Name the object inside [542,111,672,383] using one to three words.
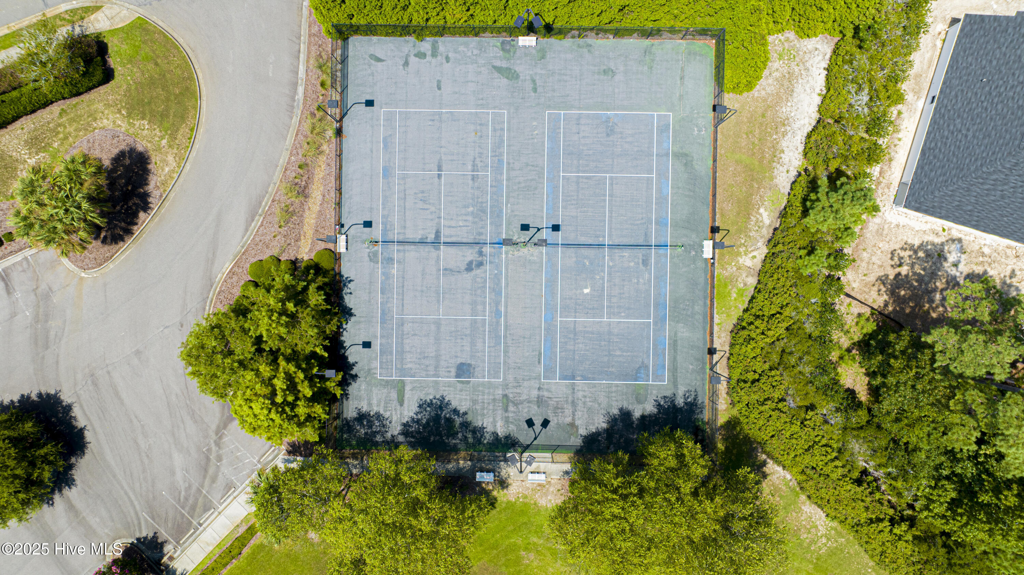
tennis court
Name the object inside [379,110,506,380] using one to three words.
tennis court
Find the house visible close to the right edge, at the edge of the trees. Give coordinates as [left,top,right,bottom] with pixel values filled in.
[890,16,1024,247]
